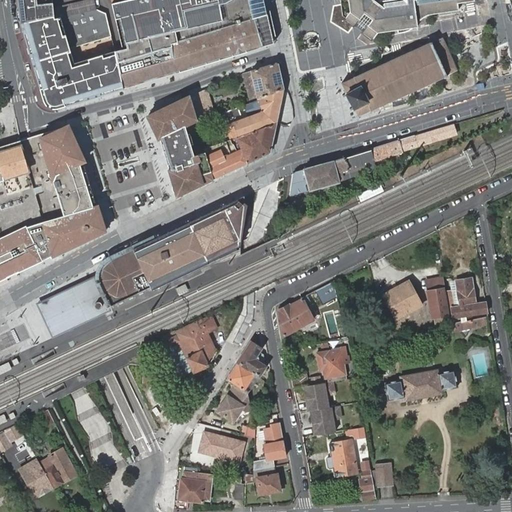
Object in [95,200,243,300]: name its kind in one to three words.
building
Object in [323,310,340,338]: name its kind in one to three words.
swimming pool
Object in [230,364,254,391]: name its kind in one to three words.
house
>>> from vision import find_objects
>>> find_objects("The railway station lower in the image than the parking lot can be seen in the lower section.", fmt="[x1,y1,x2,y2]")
[0,240,276,425]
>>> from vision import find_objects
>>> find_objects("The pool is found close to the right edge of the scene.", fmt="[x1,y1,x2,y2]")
[470,352,490,379]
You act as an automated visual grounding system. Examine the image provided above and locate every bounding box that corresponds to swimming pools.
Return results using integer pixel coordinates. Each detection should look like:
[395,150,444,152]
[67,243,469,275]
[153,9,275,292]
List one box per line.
[323,310,340,338]
[470,352,490,379]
